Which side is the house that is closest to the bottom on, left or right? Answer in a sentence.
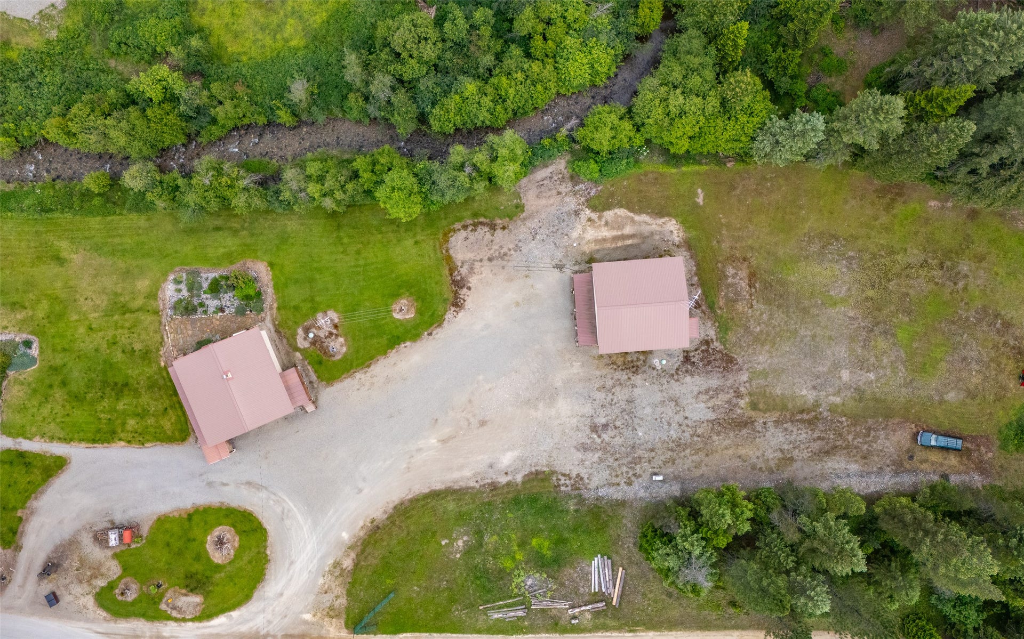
It is on the left.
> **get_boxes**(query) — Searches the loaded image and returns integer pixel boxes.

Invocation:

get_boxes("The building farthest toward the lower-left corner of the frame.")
[169,326,318,465]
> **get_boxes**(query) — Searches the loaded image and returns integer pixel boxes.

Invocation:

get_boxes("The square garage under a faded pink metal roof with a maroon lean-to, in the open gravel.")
[571,257,700,354]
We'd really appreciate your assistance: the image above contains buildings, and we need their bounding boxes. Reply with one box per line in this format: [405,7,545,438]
[169,326,318,465]
[571,257,700,354]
